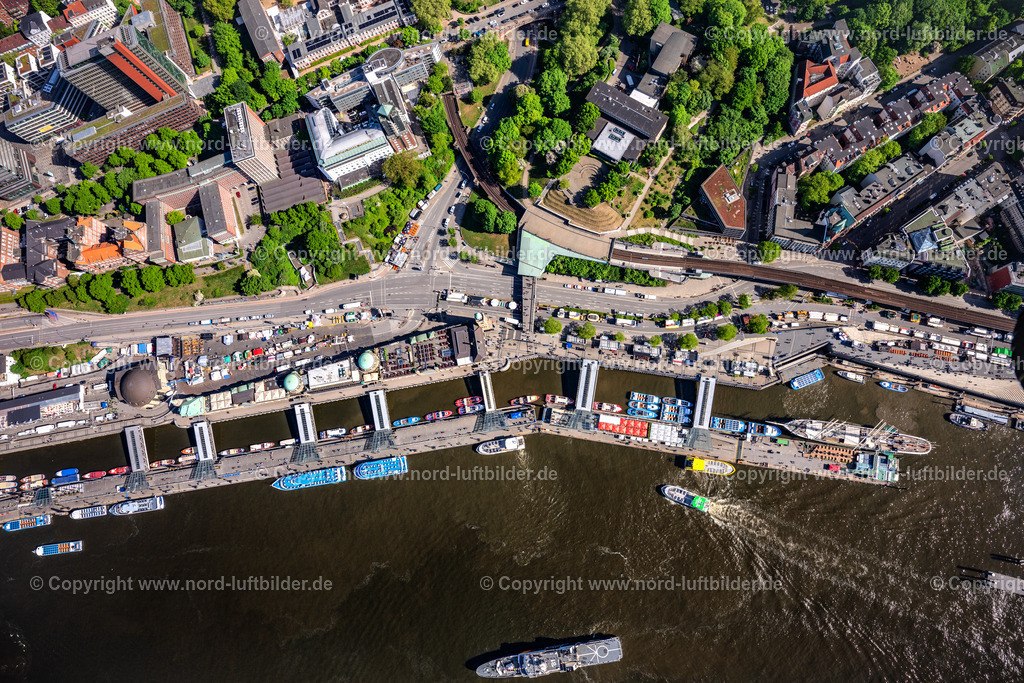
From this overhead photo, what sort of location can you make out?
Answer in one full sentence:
It's a port.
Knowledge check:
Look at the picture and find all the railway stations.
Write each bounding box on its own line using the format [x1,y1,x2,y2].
[517,205,615,277]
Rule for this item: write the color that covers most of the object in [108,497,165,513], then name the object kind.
white boat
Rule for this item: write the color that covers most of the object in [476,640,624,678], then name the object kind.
gray ship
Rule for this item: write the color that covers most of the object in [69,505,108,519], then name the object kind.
white boat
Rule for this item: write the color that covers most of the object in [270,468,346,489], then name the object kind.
blue ship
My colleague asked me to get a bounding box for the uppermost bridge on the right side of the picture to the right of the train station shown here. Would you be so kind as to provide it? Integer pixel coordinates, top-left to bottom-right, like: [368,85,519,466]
[611,247,1024,335]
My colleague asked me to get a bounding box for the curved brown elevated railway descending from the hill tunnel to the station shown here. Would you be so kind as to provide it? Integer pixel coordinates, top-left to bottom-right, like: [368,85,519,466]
[439,91,518,220]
